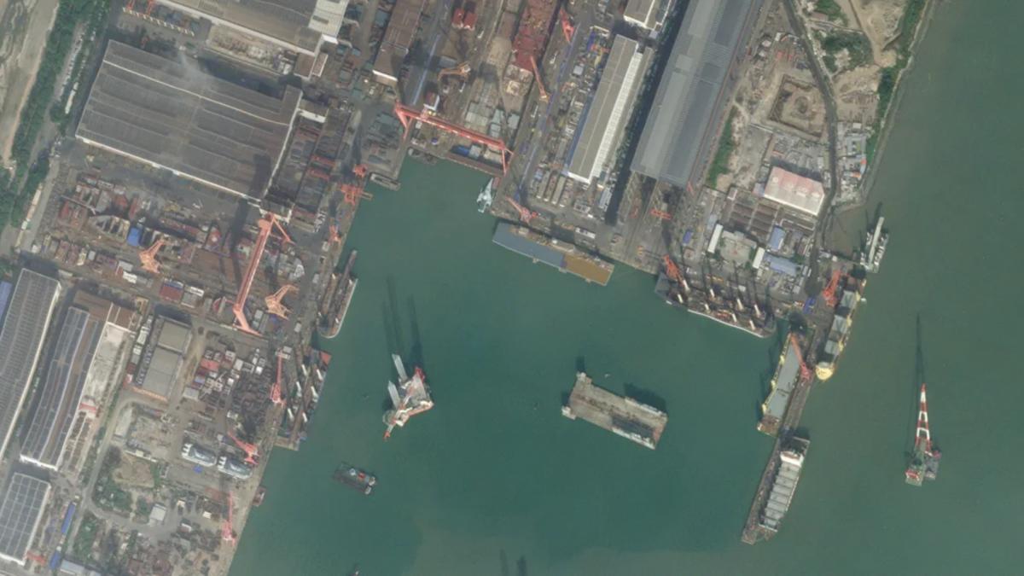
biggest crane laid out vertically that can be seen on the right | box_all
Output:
[905,385,939,486]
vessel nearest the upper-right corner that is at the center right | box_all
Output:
[859,216,889,273]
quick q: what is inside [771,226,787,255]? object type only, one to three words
shed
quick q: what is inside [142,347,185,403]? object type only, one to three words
building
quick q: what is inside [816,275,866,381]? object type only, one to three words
ship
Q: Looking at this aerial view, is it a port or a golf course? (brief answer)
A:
port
